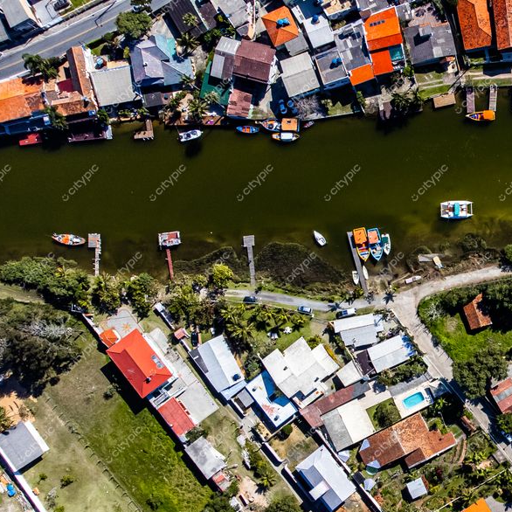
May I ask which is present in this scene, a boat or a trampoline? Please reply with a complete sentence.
Looking from above, you can make out a boat.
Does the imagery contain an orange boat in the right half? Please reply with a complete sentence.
Yes, I can see an orange boat in the right half.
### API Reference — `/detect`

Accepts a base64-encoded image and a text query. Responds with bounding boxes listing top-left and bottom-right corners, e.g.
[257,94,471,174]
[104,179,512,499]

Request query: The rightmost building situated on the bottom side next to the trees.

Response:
[491,378,512,414]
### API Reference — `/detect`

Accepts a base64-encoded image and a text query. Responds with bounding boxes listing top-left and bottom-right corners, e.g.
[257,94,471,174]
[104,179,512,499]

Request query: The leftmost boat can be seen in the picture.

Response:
[52,233,85,245]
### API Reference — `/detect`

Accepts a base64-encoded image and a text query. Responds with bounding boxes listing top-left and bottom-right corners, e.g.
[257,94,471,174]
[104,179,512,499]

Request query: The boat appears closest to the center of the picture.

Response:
[312,230,326,247]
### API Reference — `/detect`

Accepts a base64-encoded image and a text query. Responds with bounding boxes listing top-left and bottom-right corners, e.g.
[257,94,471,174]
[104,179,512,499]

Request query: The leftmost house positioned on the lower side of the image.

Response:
[0,420,51,471]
